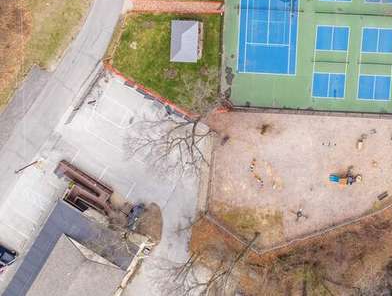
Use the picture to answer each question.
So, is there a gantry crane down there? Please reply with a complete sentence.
No, the picture doesn't show any gantry crane.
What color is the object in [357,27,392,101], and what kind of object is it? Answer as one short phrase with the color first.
blue sports court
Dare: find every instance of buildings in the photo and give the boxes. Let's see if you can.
[5,197,150,296]
[170,20,203,62]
